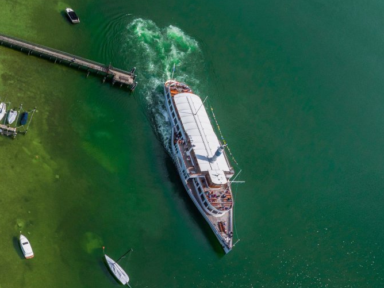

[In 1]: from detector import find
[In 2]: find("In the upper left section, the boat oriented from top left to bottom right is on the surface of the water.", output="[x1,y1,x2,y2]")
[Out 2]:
[66,8,82,25]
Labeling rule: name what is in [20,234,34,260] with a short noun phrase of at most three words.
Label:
boat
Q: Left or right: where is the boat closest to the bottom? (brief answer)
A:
left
